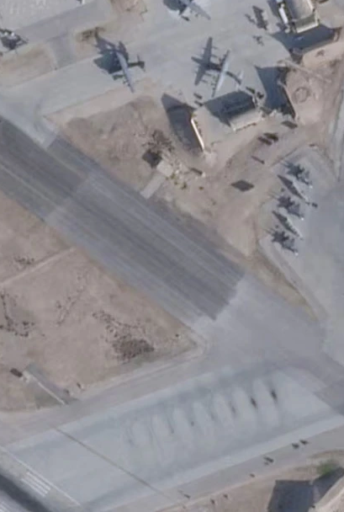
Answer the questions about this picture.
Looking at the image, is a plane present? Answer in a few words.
Yes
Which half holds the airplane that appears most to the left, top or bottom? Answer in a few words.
top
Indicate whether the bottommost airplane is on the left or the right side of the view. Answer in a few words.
right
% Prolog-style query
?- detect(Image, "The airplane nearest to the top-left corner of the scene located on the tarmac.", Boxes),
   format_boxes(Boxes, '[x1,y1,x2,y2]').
[112,47,148,96]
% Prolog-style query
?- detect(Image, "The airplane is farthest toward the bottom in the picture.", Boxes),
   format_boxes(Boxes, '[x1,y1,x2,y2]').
[276,234,297,254]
